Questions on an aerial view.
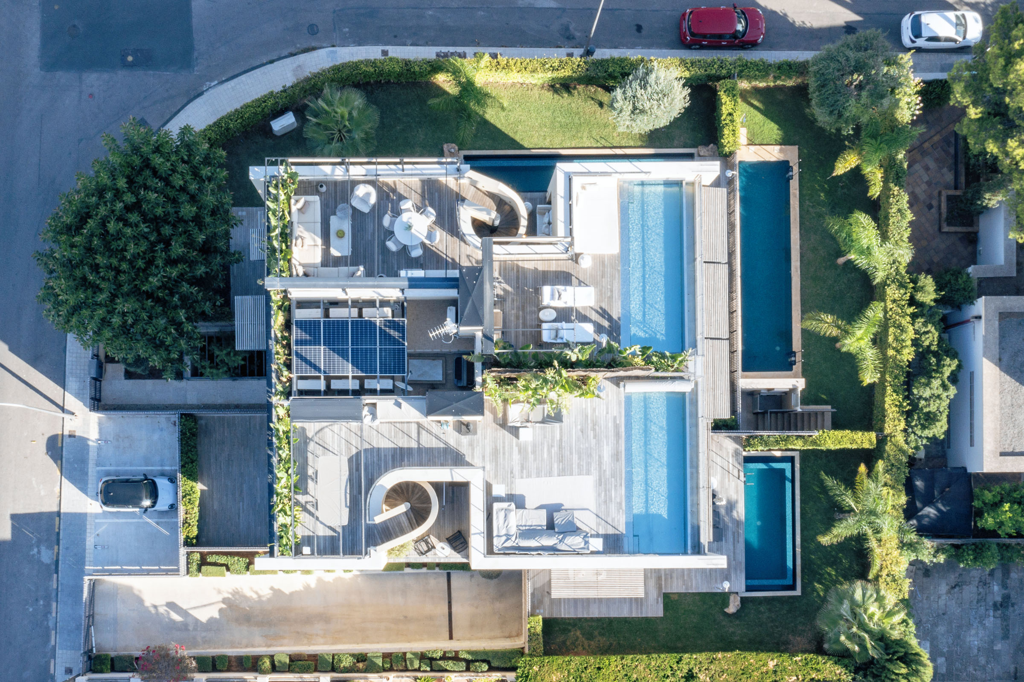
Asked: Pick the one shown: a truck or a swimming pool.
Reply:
swimming pool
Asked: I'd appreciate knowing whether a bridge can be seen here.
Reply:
No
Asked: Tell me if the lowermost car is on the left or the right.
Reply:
left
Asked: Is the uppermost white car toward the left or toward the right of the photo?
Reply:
right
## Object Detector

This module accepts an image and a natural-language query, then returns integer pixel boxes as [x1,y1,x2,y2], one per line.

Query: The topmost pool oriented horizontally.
[461,150,699,193]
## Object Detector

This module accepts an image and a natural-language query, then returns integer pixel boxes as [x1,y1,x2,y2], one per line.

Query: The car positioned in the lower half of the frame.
[94,471,176,516]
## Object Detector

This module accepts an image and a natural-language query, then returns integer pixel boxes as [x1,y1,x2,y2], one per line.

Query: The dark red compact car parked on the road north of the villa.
[682,0,766,46]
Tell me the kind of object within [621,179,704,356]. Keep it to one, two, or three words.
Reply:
swimming pool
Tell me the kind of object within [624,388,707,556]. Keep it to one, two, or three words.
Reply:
swimming pool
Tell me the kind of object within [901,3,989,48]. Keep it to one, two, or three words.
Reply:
car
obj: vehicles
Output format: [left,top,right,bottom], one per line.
[901,3,989,48]
[94,471,176,516]
[682,0,766,46]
